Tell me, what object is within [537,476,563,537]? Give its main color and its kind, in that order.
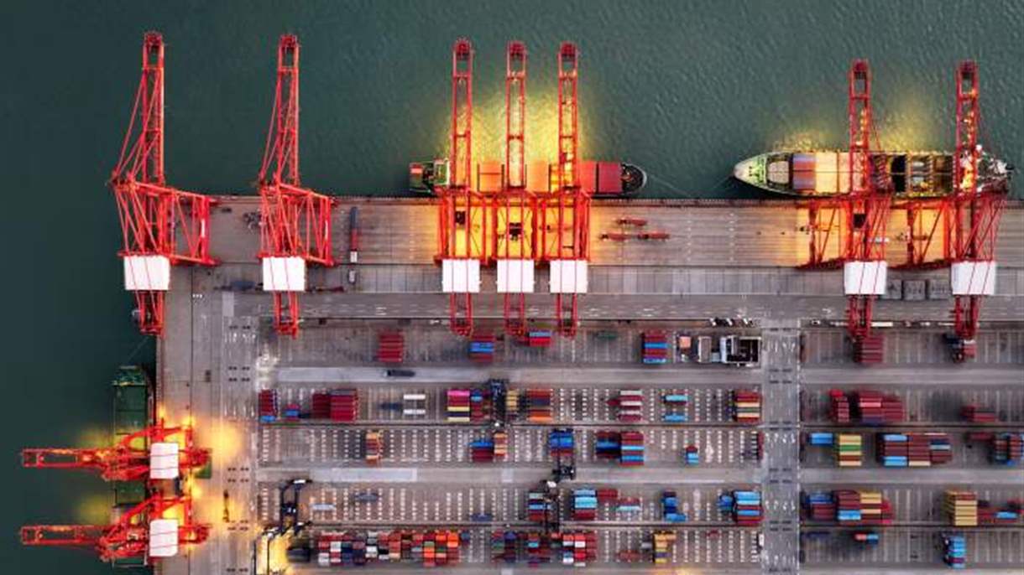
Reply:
black container crane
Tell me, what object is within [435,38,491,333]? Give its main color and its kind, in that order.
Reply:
red container crane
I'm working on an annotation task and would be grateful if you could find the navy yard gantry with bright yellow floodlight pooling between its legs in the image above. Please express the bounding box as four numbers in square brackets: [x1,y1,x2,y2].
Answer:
[251,524,287,575]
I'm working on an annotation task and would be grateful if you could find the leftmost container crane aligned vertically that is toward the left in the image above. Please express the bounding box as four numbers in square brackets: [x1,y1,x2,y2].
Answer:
[107,31,218,332]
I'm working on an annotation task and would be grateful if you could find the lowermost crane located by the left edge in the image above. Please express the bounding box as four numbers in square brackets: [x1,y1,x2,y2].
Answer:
[20,487,209,560]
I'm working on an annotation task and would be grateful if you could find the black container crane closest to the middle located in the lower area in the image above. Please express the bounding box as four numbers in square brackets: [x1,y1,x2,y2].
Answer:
[485,379,511,435]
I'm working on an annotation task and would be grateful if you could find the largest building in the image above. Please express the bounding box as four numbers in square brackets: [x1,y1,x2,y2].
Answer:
[718,337,764,368]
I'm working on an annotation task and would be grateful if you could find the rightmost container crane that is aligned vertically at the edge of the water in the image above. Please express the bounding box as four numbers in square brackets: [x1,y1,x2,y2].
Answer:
[893,61,1022,336]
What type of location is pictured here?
port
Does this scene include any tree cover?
No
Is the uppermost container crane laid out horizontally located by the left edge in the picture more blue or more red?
red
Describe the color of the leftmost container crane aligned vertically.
red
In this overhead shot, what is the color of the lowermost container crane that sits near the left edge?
red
